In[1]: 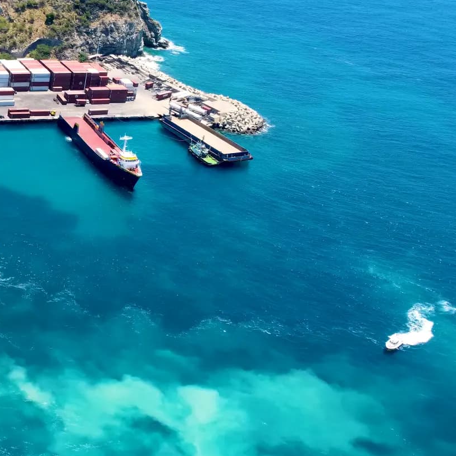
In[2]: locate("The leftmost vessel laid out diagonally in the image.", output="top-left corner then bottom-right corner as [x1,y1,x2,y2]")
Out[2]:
[59,110,147,187]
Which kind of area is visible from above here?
port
